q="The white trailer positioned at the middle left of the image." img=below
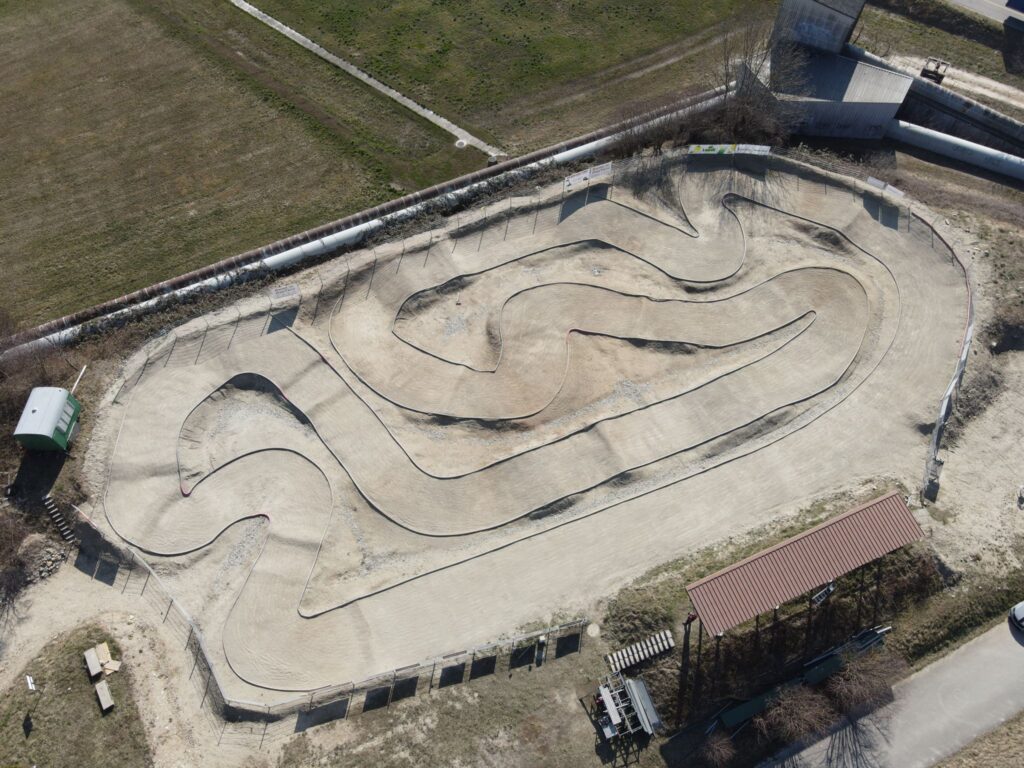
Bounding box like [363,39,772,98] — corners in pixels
[14,361,88,450]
